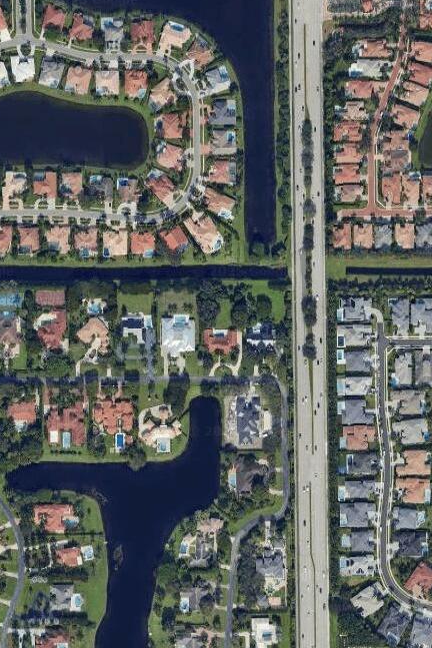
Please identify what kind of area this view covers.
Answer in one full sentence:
The picture captures a residential area.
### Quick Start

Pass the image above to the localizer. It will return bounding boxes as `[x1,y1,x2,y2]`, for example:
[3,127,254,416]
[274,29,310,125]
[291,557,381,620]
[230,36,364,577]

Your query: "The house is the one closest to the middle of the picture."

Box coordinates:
[204,326,240,353]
